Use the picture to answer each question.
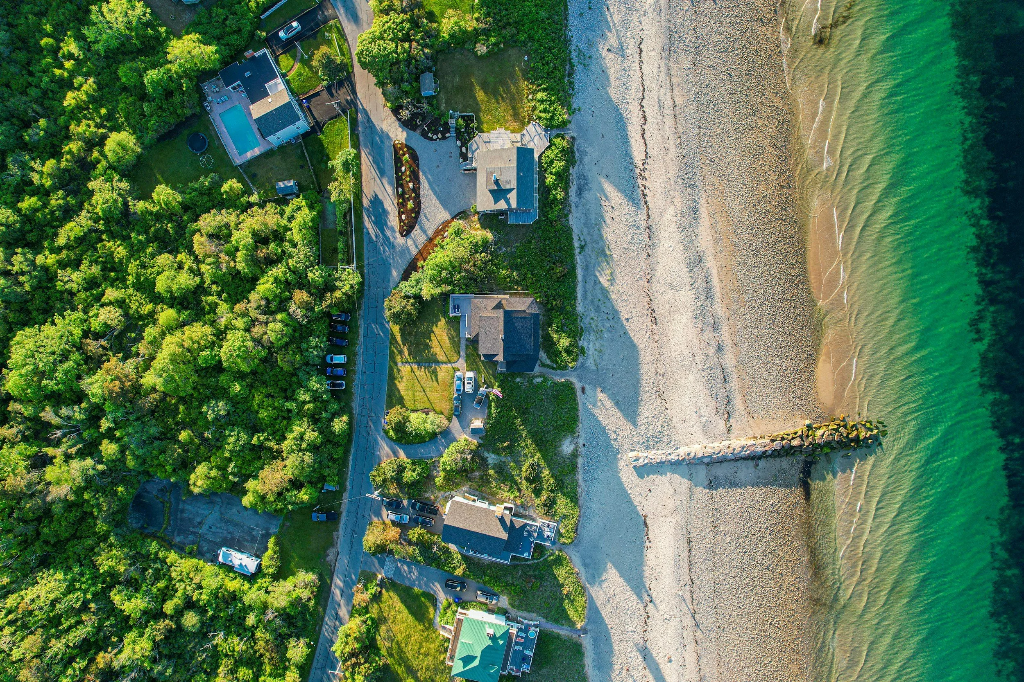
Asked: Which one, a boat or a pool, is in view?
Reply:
pool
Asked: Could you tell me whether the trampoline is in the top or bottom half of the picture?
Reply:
top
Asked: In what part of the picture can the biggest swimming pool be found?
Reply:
top left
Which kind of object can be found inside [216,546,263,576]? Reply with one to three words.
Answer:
camper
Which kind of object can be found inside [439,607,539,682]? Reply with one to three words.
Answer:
building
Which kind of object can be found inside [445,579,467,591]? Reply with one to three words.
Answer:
vehicle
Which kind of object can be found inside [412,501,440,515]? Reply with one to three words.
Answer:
vehicle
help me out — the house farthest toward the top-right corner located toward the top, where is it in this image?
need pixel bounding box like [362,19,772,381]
[460,120,572,225]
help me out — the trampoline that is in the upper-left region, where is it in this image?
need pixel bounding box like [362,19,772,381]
[187,131,207,151]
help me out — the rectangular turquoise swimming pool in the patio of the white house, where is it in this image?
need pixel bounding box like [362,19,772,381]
[219,102,261,156]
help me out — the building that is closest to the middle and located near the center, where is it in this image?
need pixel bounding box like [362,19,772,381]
[449,294,539,374]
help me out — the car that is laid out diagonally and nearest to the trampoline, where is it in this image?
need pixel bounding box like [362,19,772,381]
[278,21,302,39]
